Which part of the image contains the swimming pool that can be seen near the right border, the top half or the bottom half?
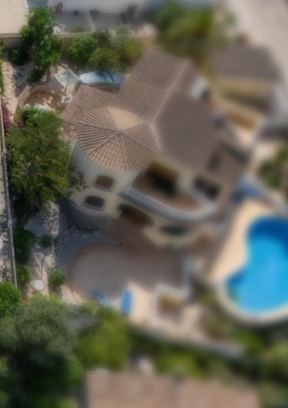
bottom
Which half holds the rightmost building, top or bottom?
top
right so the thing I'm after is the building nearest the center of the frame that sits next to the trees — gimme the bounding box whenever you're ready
[60,50,247,255]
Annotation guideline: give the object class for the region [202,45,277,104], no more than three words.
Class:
building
